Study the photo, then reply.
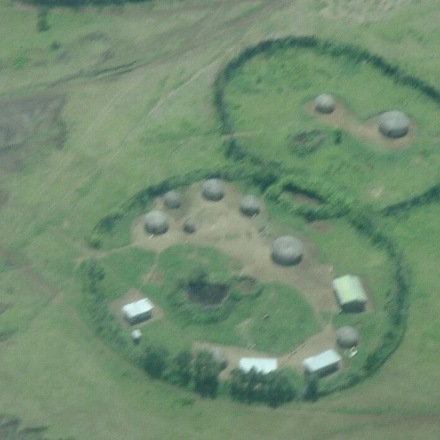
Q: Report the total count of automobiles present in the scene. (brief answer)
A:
0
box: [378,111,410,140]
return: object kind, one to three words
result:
shed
